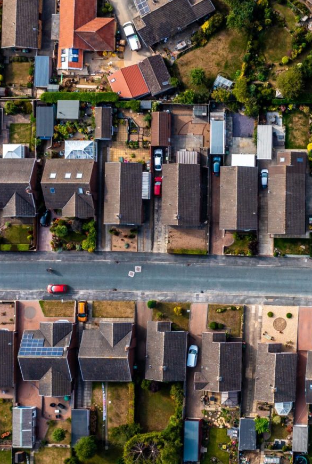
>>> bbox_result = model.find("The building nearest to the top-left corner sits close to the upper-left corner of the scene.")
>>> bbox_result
[2,0,42,50]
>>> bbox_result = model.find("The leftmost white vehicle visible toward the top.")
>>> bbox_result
[122,20,144,52]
